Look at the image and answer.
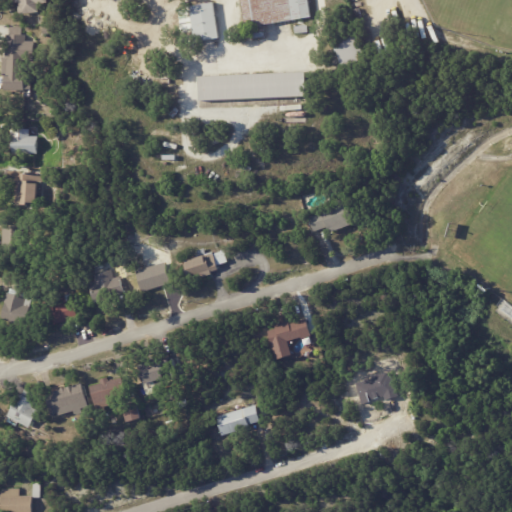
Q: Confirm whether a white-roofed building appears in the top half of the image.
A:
Yes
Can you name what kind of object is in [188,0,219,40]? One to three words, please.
building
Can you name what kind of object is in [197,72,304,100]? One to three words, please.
building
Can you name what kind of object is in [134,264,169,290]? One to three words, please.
house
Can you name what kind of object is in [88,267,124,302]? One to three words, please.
house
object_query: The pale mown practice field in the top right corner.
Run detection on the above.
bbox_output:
[428,0,512,48]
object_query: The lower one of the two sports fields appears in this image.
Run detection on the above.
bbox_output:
[471,168,512,292]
